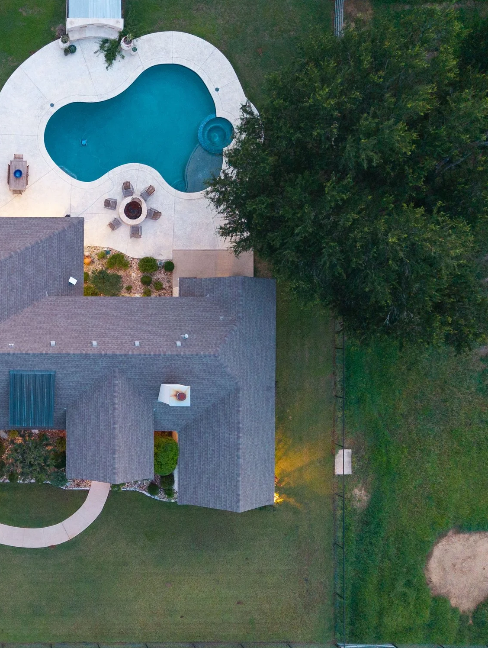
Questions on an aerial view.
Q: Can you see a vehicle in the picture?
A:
No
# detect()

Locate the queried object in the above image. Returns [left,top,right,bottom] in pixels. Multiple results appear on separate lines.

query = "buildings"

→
[64,0,124,43]
[0,215,276,513]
